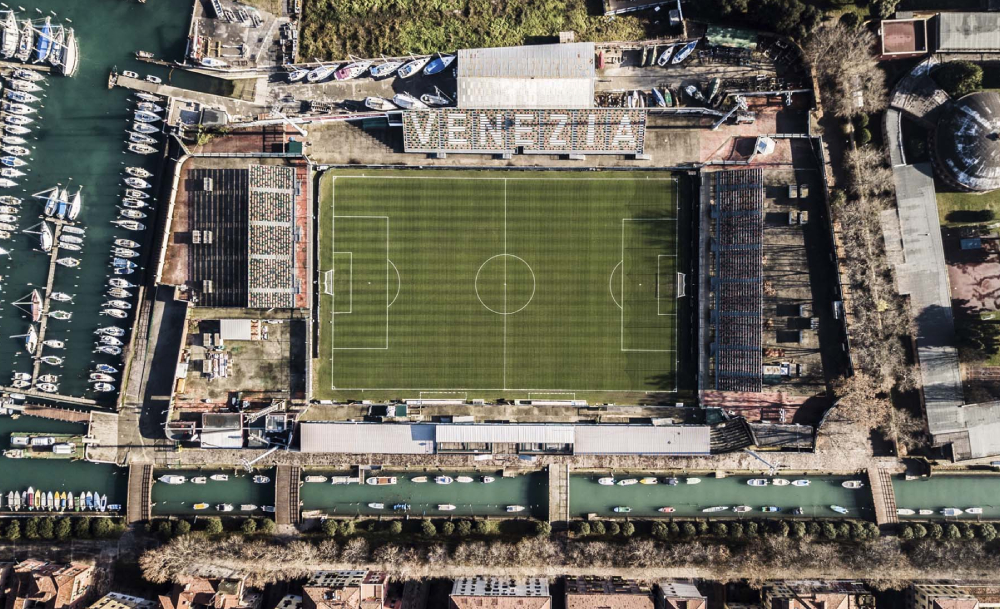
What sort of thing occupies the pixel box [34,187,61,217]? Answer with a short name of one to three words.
boat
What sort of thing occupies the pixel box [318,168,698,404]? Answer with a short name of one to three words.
soccer field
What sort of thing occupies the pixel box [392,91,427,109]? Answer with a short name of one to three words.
boat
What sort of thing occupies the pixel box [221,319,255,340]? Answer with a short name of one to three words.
shed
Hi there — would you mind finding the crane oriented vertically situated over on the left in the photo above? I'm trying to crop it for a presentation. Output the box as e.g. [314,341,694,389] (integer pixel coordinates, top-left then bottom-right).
[184,8,202,61]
